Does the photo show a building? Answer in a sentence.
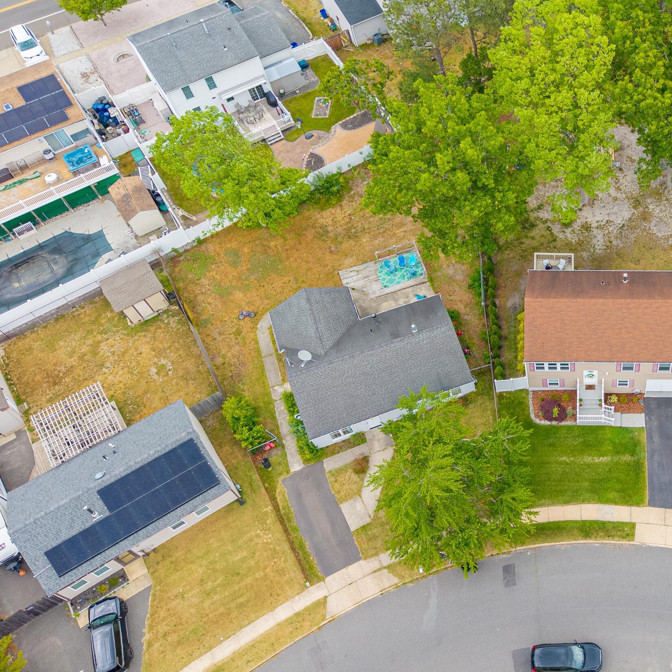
Yes, a building appears in the view.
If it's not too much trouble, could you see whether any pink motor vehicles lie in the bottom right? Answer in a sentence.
No, the scene shows no pink motor vehicle in the bottom right.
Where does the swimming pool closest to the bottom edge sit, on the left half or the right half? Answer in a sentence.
You can find the swimming pool closest to the bottom edge on the left side of the picture.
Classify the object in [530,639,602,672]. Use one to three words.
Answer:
car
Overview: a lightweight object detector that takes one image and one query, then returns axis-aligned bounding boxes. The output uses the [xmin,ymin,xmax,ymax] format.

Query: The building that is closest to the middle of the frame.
[269,286,473,450]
